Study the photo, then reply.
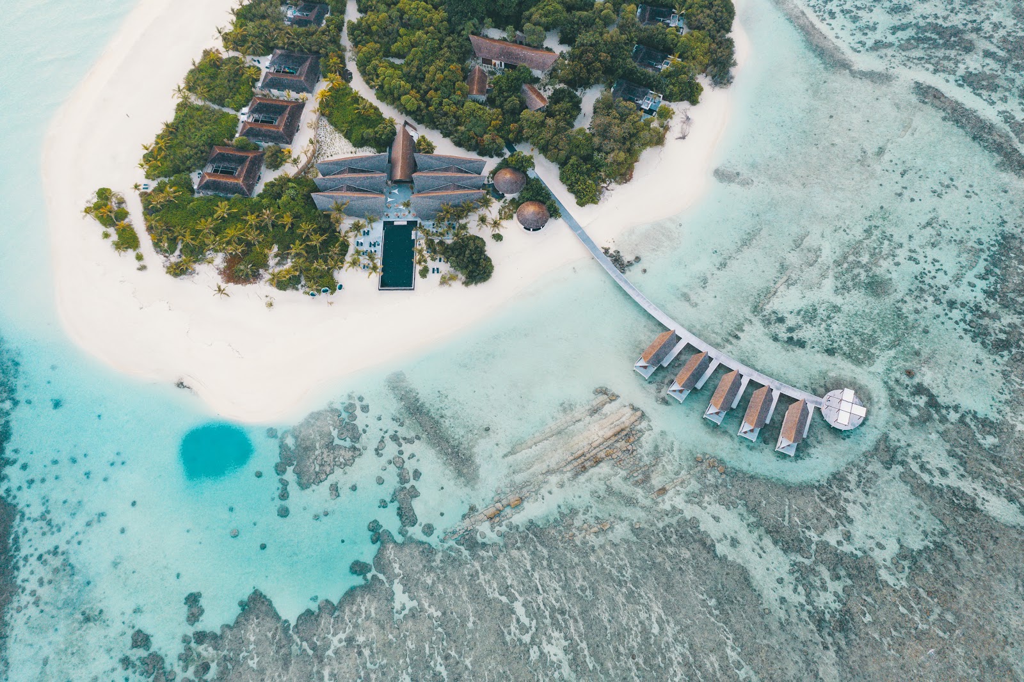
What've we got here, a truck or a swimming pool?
swimming pool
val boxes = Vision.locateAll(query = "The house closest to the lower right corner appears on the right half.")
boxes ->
[773,399,808,462]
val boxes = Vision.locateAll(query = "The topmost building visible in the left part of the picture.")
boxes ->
[289,0,329,30]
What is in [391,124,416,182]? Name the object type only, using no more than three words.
building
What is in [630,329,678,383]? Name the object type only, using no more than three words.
house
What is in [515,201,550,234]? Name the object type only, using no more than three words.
shed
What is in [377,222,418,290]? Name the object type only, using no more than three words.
swimming pool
